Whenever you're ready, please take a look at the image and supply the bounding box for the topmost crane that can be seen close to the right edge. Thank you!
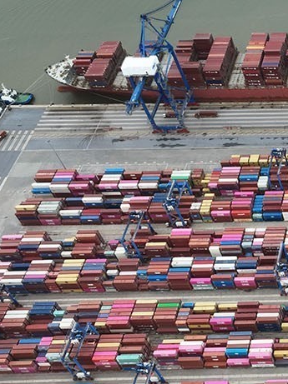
[265,147,288,194]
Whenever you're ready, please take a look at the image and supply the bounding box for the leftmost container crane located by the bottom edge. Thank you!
[61,322,100,382]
